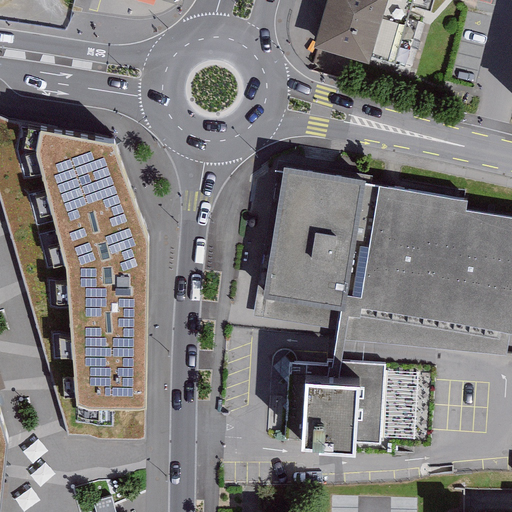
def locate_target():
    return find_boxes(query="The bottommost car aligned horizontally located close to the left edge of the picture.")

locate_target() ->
[24,76,46,88]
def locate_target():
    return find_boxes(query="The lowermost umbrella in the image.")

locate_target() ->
[15,488,40,512]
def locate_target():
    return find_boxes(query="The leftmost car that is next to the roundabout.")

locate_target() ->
[107,78,130,90]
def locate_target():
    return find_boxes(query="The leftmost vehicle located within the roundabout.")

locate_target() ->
[147,90,170,104]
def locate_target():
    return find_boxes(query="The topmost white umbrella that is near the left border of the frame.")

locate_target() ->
[23,438,48,464]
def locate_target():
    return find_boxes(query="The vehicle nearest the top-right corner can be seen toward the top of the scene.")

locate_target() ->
[463,30,488,44]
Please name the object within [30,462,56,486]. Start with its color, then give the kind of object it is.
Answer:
white umbrella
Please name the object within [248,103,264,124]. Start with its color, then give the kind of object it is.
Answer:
blue car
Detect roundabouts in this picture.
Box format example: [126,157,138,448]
[139,13,290,164]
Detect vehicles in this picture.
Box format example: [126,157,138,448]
[186,344,198,368]
[294,470,324,481]
[204,120,227,132]
[464,382,474,404]
[198,200,210,226]
[455,70,476,81]
[107,78,130,90]
[190,274,202,302]
[328,92,354,108]
[463,30,488,44]
[0,33,16,44]
[361,104,383,117]
[176,276,186,300]
[170,460,181,484]
[272,456,288,483]
[188,312,198,334]
[184,380,194,404]
[186,134,208,150]
[203,172,215,196]
[172,390,182,410]
[260,28,270,52]
[194,236,206,264]
[245,76,259,100]
[24,76,46,88]
[288,78,312,95]
[147,90,170,104]
[248,103,264,124]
